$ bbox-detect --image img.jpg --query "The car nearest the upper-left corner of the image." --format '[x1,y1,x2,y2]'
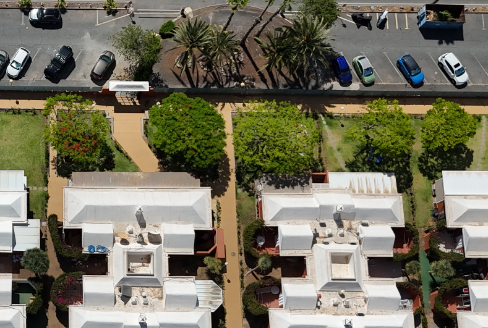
[29,7,61,24]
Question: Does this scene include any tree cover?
Yes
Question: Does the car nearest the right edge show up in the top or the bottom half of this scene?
top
